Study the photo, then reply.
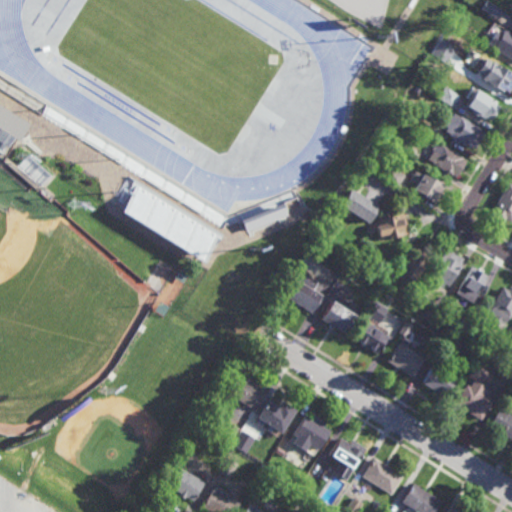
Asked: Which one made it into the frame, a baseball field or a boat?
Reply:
baseball field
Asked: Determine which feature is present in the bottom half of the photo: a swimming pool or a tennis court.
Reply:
swimming pool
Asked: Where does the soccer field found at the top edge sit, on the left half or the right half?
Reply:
left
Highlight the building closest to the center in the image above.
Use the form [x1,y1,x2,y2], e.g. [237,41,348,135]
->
[245,204,290,234]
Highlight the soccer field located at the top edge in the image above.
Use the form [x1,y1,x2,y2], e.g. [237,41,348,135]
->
[60,0,282,154]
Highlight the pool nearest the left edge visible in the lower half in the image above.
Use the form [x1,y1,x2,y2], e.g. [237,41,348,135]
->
[317,476,350,512]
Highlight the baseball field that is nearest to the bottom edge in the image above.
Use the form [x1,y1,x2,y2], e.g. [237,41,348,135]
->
[54,396,163,491]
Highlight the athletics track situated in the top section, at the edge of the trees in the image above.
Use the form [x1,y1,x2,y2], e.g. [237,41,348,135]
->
[0,0,371,211]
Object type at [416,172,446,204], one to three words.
house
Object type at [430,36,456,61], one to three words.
building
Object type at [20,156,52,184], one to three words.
building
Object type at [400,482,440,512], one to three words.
house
